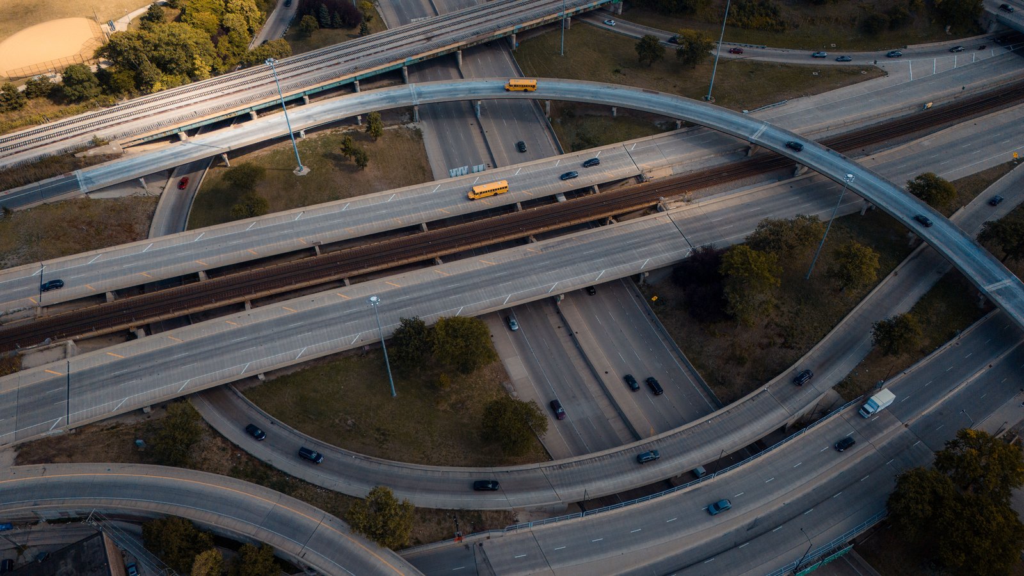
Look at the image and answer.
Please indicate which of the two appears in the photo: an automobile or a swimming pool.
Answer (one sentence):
Looking from above, you can make out an automobile.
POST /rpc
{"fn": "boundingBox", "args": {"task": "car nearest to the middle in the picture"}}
[505,314,518,331]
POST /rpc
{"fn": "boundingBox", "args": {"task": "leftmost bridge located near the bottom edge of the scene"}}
[0,467,426,576]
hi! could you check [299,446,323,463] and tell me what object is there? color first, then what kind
black car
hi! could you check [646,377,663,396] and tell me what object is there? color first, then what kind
black car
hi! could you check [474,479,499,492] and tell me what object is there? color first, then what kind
black vehicle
